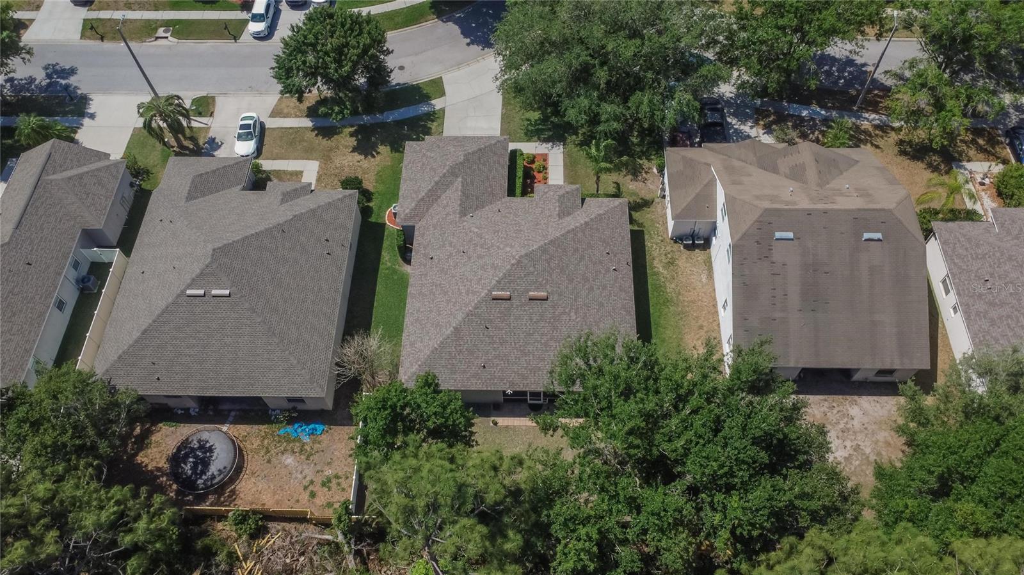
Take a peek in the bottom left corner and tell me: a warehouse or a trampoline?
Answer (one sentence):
The one visible in the bottom left corner is a trampoline.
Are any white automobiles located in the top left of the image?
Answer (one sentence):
Yes, you'll find a white automobile in the top left of the image.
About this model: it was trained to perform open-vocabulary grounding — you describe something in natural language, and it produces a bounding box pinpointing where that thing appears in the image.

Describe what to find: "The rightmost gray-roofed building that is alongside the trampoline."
[86,156,360,408]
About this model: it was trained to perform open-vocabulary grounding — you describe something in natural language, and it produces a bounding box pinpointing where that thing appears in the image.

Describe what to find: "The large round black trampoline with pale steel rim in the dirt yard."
[170,425,243,492]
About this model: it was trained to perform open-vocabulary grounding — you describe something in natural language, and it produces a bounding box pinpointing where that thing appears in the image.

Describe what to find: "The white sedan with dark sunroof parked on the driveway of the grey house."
[232,111,263,160]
